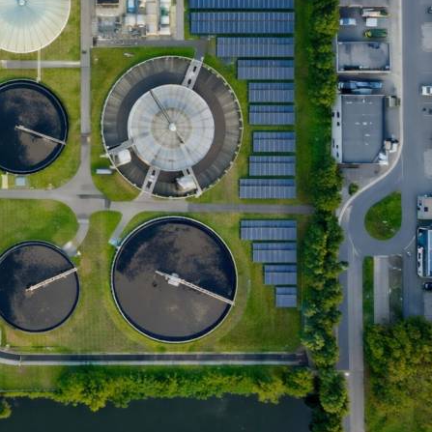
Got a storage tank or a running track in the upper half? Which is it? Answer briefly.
storage tank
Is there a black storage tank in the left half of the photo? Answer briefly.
Yes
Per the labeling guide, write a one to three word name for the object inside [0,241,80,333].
storage tank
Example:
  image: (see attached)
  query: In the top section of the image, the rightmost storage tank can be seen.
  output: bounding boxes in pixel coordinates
[101,55,244,199]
